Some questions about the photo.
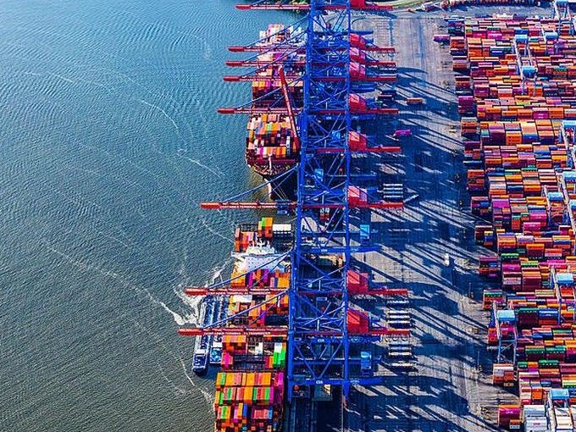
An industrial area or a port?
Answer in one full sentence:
The picture captures a port.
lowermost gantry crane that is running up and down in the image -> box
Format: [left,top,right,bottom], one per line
[548,385,575,432]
